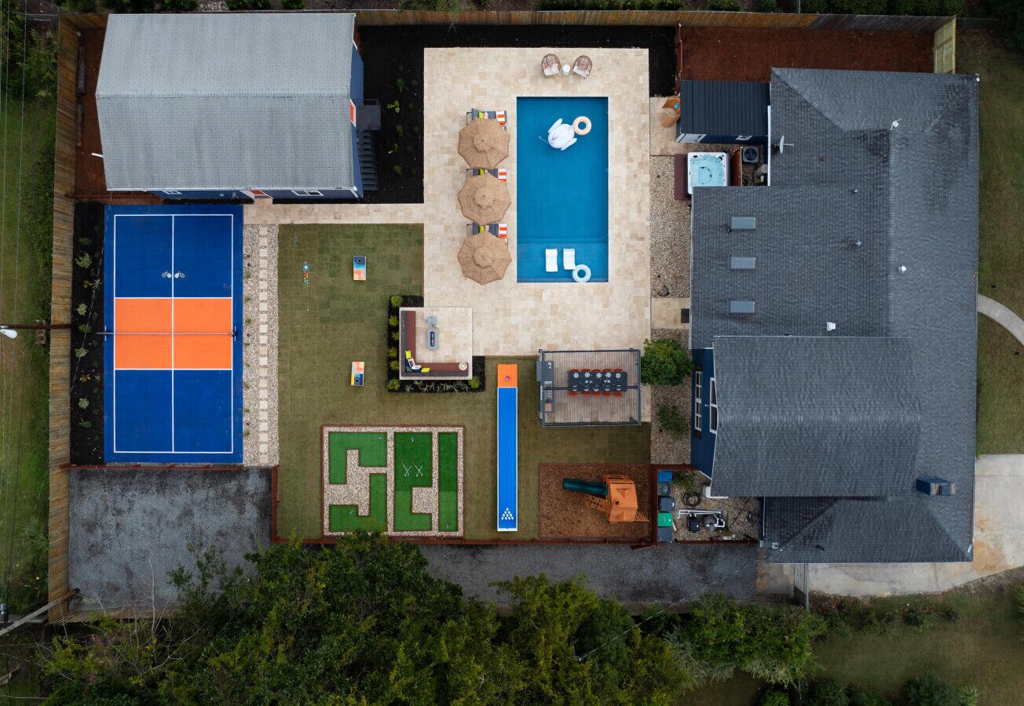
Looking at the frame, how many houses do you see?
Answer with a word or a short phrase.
2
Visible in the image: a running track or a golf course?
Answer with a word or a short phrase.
golf course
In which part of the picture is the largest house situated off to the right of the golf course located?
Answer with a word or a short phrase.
right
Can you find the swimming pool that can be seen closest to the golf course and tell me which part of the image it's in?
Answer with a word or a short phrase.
top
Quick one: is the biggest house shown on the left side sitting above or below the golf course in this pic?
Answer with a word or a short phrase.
above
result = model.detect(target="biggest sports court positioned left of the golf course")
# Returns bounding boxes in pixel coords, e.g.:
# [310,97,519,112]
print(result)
[104,205,243,463]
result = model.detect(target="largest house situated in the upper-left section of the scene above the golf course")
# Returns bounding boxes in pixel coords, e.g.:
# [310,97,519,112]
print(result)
[96,13,387,204]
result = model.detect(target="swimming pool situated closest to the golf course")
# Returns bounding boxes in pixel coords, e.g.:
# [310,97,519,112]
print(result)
[511,91,614,288]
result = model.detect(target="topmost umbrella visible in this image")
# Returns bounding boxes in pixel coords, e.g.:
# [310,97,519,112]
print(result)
[458,117,510,169]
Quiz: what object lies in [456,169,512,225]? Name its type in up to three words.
umbrella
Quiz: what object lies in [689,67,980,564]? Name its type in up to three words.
house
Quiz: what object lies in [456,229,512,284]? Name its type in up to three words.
umbrella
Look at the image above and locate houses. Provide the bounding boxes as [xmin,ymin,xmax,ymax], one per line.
[689,67,980,564]
[96,13,387,204]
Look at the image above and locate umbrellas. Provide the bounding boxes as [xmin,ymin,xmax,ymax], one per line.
[456,229,512,284]
[458,117,510,169]
[456,169,512,225]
